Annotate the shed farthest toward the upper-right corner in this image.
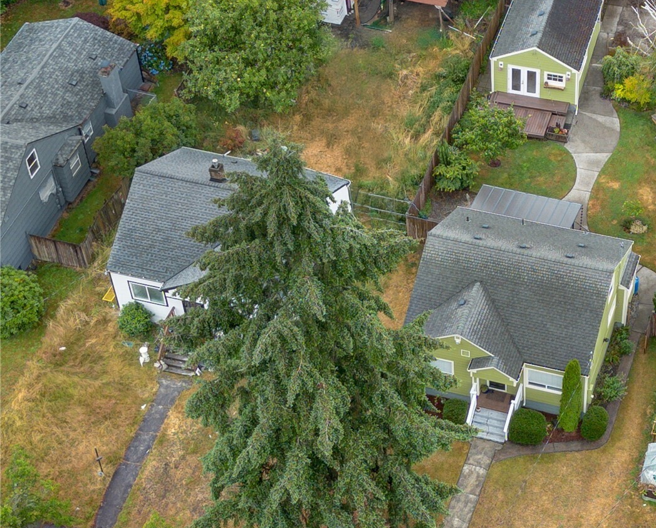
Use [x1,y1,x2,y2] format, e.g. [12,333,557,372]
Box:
[489,0,609,115]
